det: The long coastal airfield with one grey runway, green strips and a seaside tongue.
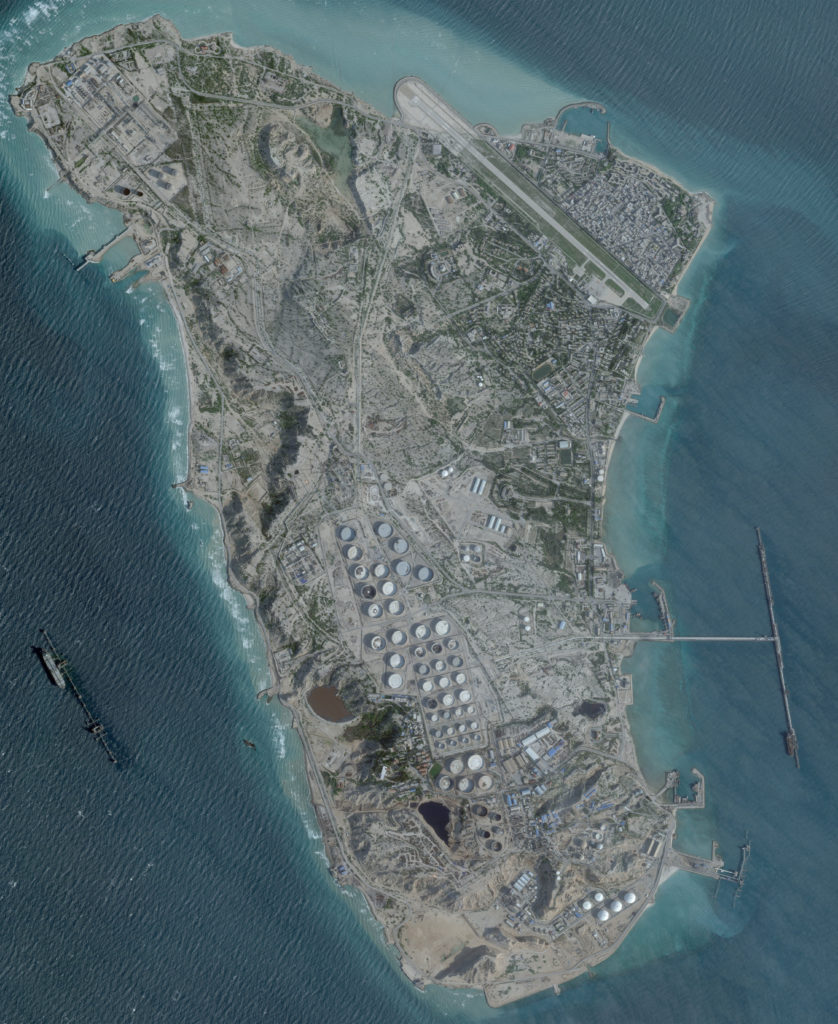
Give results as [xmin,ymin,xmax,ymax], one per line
[398,79,663,318]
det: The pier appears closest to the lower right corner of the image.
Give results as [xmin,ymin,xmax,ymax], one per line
[668,840,750,908]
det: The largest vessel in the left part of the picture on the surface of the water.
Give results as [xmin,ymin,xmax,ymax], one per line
[40,649,66,689]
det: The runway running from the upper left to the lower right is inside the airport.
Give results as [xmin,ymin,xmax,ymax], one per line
[418,103,649,308]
